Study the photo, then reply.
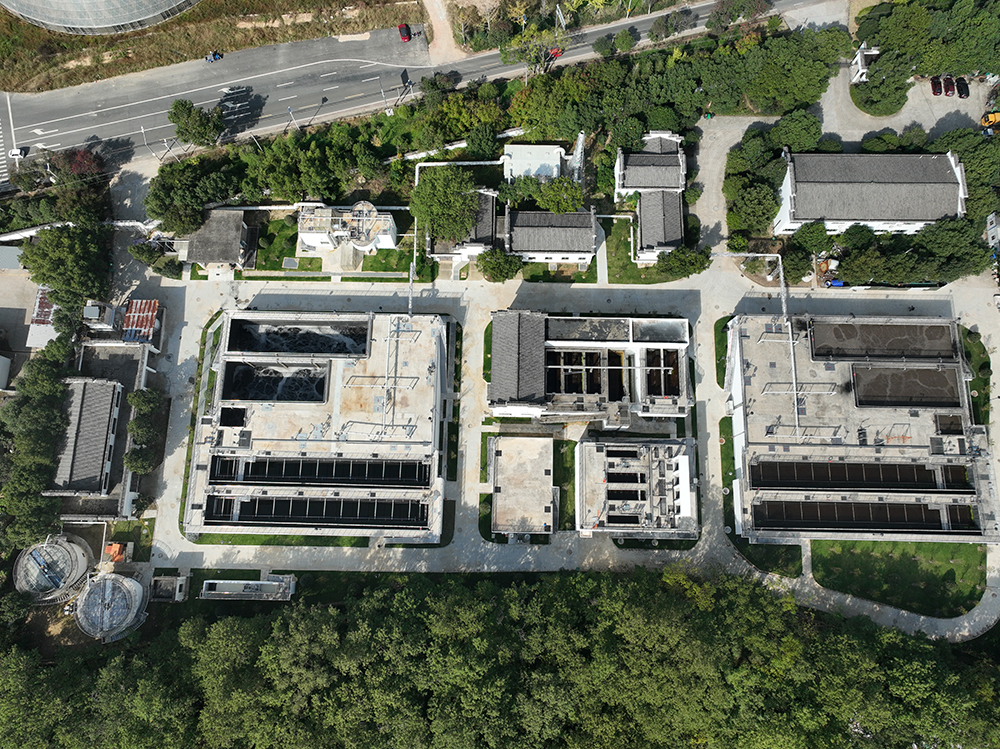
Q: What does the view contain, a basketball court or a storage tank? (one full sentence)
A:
The one in the frame is a storage tank.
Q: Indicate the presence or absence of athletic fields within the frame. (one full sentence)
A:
No, I find no athletic field anywhere in the image.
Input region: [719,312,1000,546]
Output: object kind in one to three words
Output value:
storage tank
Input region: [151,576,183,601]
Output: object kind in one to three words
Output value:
building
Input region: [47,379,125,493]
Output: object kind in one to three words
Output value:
house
